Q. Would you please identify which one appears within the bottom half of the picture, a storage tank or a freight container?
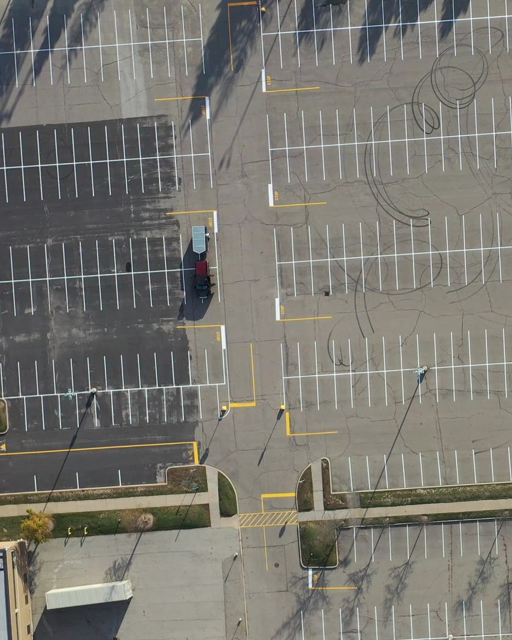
freight container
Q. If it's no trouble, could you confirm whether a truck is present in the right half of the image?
No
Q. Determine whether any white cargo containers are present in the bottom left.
Yes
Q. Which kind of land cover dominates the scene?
paved ground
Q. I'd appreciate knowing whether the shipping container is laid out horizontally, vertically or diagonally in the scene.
horizontally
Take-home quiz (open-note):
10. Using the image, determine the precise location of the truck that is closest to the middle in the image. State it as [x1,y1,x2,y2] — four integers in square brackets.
[189,260,215,299]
